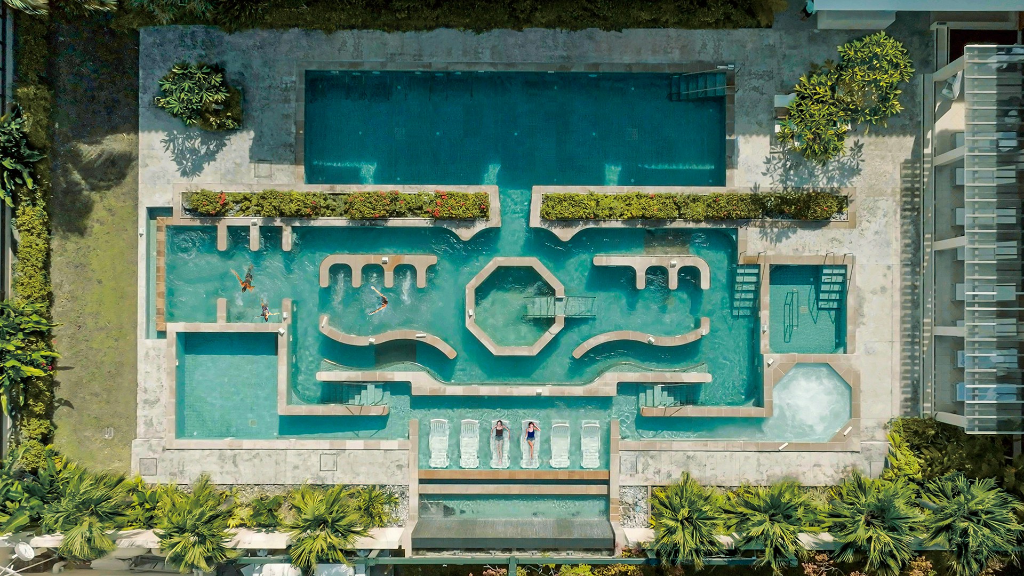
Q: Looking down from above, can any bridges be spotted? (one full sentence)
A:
No, I can see no bridge in this picture.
